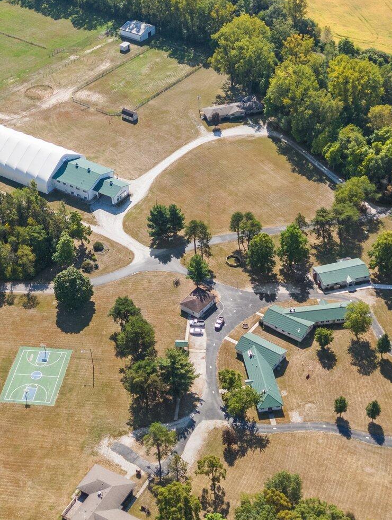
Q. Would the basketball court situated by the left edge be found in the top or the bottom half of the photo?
bottom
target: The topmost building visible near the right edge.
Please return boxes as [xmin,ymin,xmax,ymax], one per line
[311,258,378,298]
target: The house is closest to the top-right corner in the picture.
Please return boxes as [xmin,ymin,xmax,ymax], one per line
[202,102,262,122]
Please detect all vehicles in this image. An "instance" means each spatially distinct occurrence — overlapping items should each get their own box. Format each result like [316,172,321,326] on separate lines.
[189,318,206,326]
[214,317,225,330]
[190,328,203,334]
